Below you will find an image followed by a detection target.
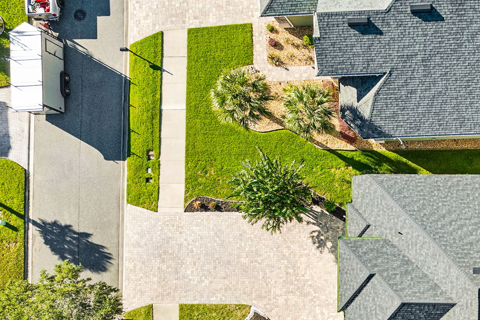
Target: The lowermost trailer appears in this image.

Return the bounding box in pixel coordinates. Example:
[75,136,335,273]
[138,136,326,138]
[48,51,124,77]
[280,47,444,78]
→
[2,21,72,121]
